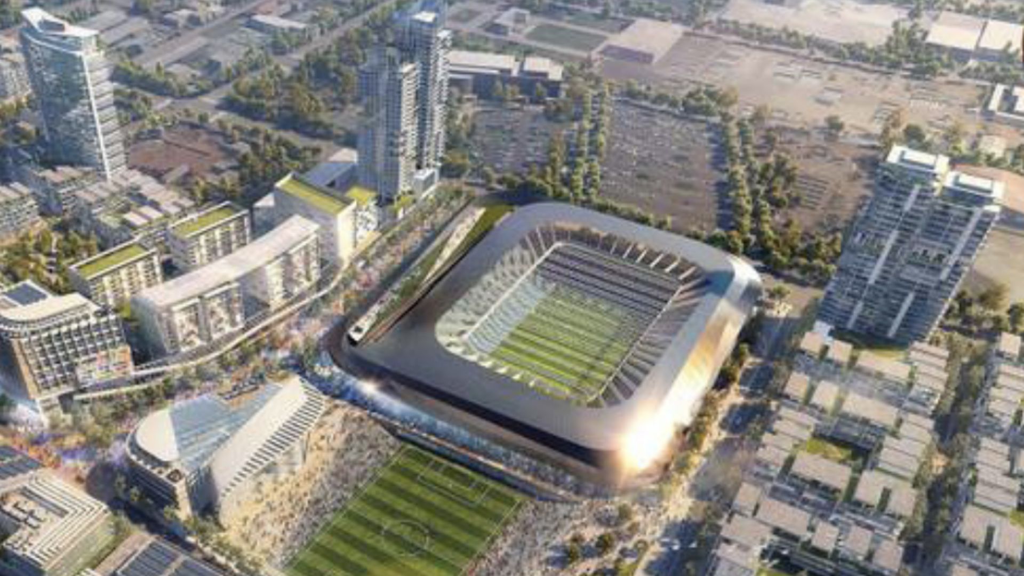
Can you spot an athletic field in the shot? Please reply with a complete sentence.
Yes, an athletic field can be made out from above.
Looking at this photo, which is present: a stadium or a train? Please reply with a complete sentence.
The image shows a stadium.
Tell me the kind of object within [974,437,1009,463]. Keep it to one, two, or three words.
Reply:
house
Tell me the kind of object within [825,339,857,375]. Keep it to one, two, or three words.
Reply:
house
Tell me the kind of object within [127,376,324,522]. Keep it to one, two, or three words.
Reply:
building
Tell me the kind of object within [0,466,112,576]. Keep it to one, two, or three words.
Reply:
building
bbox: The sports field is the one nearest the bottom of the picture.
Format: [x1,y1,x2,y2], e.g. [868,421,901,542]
[281,438,529,576]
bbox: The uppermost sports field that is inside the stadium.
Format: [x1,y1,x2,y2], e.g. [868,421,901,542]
[491,293,656,408]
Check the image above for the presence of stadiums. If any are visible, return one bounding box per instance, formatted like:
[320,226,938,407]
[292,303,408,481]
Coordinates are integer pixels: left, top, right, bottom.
[306,193,758,510]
